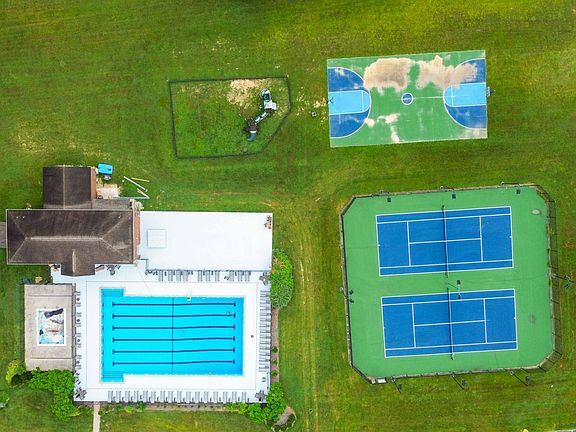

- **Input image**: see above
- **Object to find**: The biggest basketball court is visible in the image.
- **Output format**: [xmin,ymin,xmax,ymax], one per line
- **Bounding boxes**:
[327,50,487,147]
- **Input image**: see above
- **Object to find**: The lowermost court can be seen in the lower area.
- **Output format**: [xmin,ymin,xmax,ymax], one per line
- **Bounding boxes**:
[381,288,518,361]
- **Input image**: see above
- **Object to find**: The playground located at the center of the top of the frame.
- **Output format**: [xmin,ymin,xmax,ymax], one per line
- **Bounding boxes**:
[243,91,277,144]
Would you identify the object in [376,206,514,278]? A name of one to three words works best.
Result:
tennis court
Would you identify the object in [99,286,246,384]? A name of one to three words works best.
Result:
swimming pool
